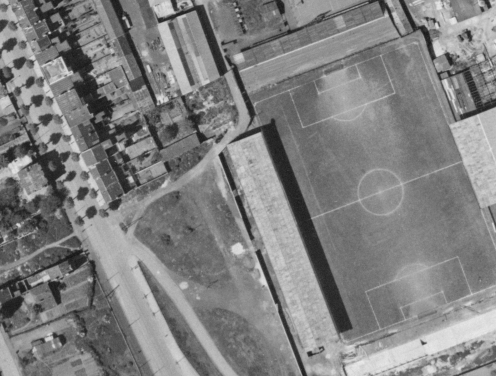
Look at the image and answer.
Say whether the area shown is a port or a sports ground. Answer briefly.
sports ground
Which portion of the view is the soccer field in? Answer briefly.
right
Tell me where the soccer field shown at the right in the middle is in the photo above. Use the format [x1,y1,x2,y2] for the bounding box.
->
[255,36,496,344]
